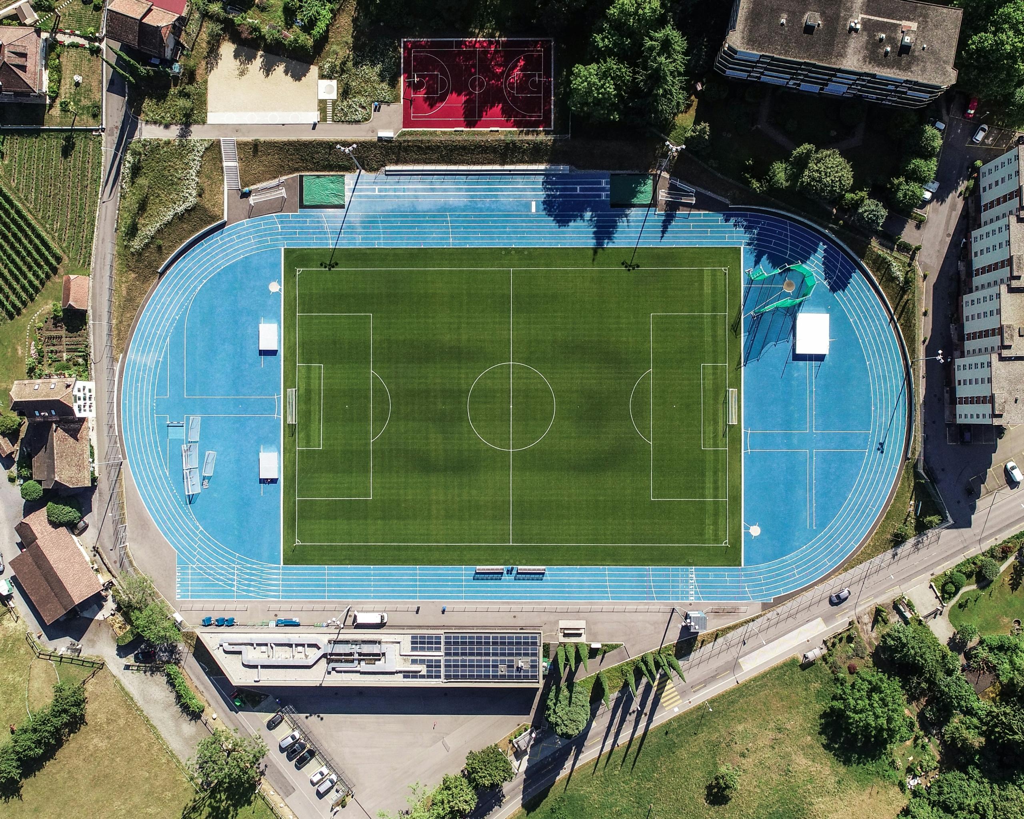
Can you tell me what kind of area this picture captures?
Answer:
sports ground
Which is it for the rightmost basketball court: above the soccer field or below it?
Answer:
above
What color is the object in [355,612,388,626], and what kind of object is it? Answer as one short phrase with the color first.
white vehicle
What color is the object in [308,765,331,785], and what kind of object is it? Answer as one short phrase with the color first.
white car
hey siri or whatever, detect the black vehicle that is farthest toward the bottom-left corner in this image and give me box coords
[135,651,155,663]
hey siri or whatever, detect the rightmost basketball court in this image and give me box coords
[402,38,553,130]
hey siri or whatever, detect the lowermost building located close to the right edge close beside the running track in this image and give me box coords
[938,355,1024,425]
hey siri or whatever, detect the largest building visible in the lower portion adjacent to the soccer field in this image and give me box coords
[193,626,542,687]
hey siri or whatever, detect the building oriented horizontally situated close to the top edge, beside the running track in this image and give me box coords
[707,0,963,119]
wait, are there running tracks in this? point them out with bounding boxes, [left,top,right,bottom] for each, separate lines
[121,172,907,602]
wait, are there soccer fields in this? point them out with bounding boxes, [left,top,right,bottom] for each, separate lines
[283,247,742,566]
